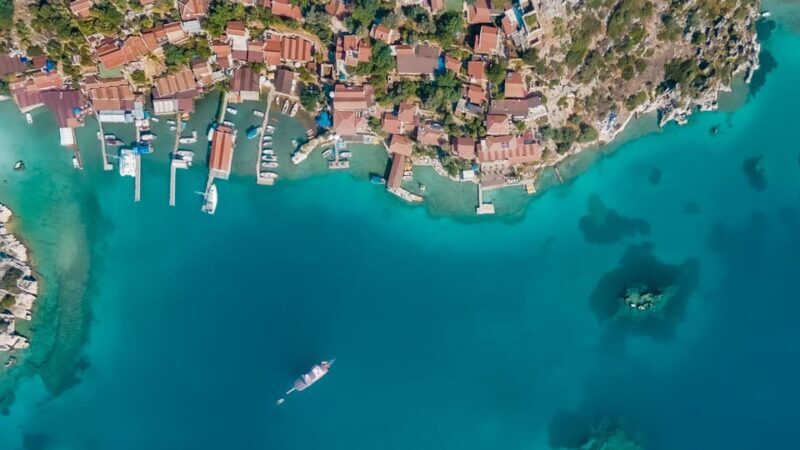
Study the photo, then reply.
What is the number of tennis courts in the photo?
0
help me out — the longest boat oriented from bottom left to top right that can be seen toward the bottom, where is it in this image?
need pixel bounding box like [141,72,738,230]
[287,365,334,393]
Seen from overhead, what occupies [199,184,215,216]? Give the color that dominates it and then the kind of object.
white boat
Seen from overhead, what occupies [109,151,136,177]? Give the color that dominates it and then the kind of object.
white boat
